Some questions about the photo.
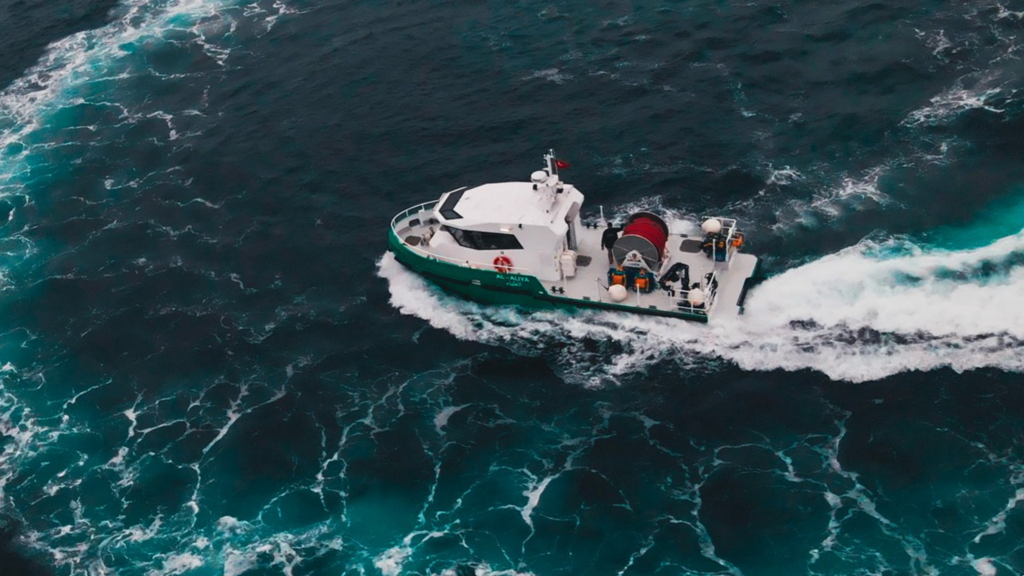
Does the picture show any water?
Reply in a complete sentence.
Yes, there is water in the image.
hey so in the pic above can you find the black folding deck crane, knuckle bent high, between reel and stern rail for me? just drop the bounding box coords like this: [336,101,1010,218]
[656,260,691,301]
